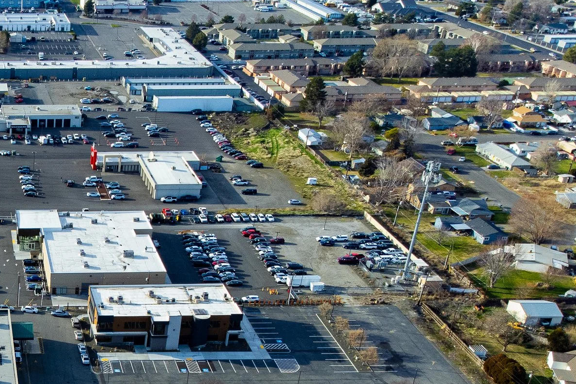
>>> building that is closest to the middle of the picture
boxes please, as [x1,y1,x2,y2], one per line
[296,131,326,149]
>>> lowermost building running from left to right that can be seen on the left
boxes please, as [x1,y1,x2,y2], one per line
[86,284,246,350]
